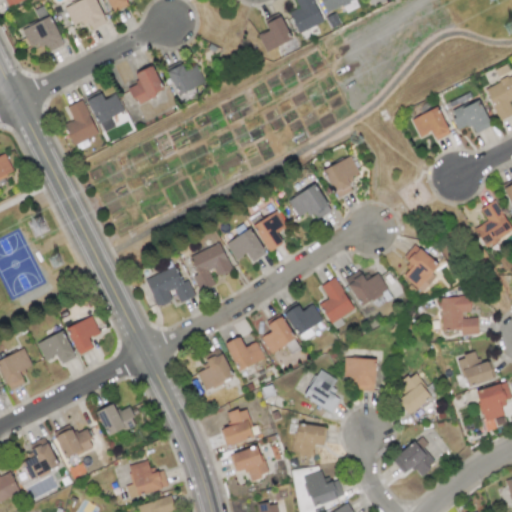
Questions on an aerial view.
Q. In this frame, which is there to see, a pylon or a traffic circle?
pylon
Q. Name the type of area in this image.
residential area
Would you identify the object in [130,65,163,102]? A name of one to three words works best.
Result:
house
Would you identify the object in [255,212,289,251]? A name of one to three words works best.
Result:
house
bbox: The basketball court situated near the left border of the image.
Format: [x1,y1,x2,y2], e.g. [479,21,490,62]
[0,228,46,299]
